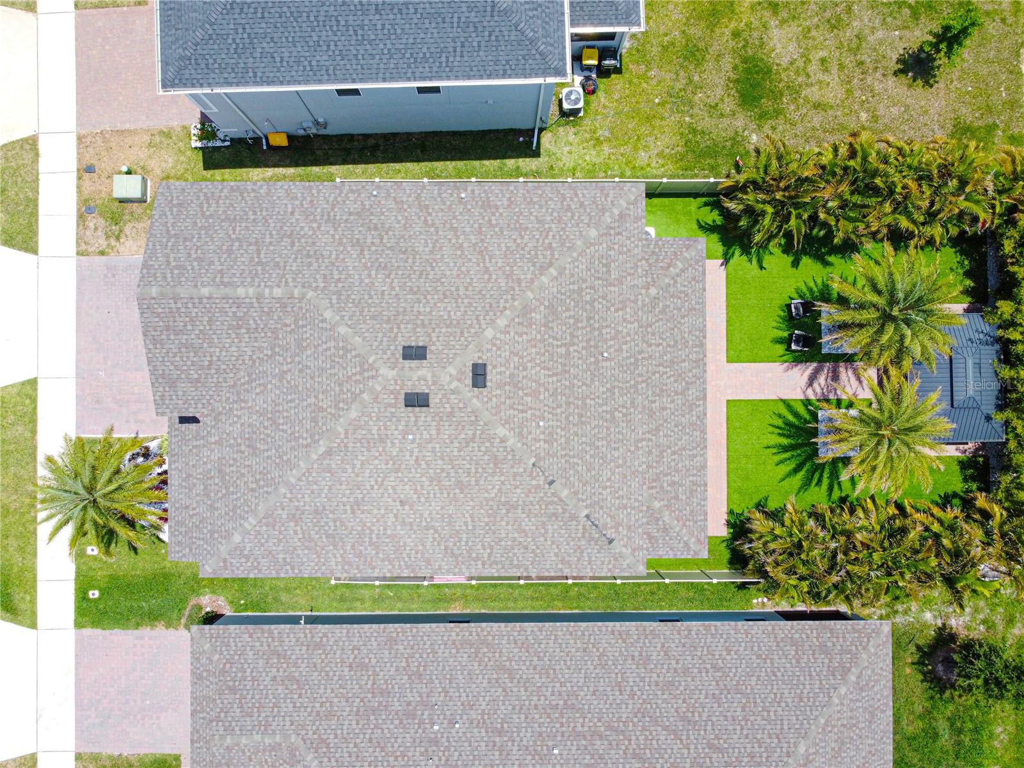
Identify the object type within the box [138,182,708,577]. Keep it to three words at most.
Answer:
house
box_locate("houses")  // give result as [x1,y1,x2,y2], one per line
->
[190,609,891,768]
[138,182,708,577]
[152,0,648,151]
